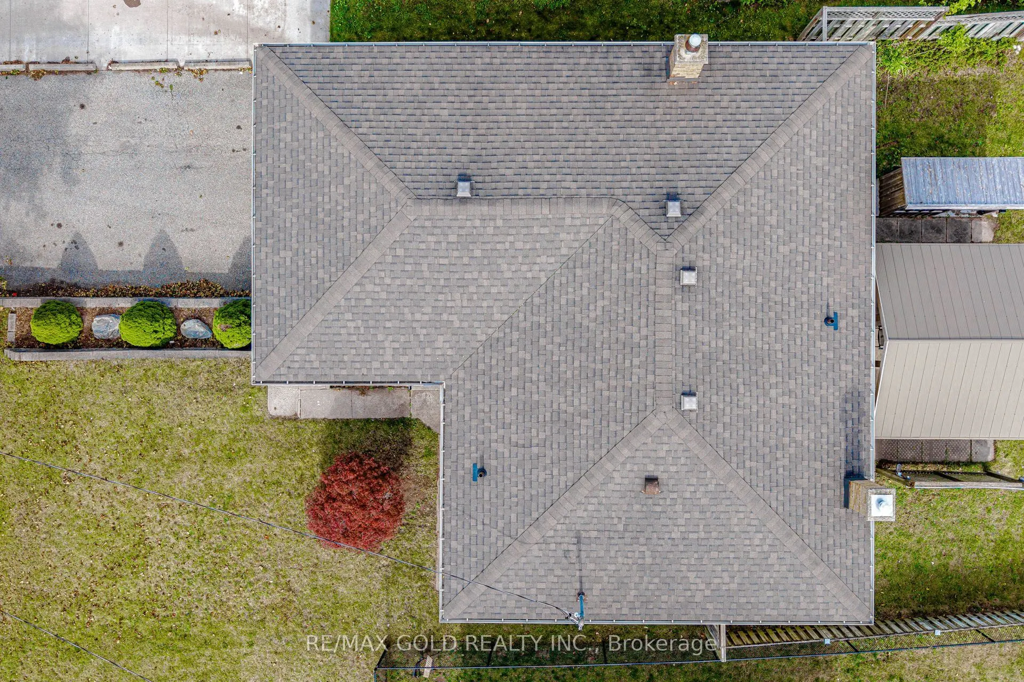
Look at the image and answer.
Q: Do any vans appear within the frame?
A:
No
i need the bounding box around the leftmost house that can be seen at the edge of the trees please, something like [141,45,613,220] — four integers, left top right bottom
[252,34,896,630]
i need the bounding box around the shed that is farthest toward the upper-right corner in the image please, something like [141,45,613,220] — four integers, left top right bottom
[875,157,1024,216]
